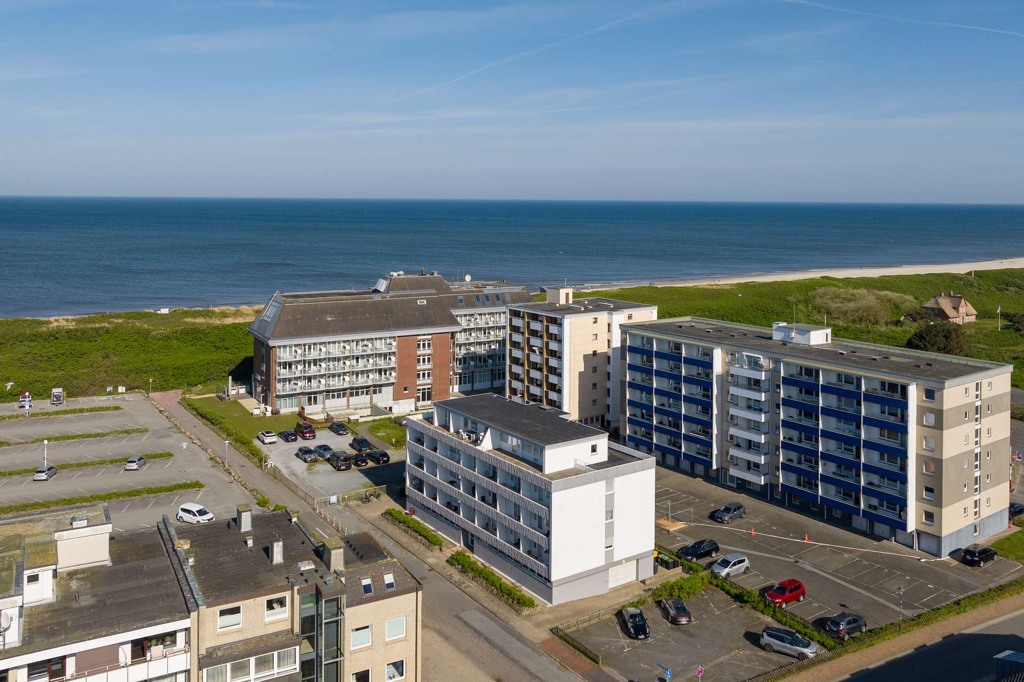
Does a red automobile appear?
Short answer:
Yes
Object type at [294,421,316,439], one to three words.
vehicle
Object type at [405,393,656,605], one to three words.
house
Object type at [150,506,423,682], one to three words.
house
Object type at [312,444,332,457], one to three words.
vehicle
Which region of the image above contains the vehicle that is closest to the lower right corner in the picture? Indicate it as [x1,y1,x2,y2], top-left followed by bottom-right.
[962,539,998,563]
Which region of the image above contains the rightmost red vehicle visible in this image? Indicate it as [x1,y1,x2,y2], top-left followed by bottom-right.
[766,576,806,605]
